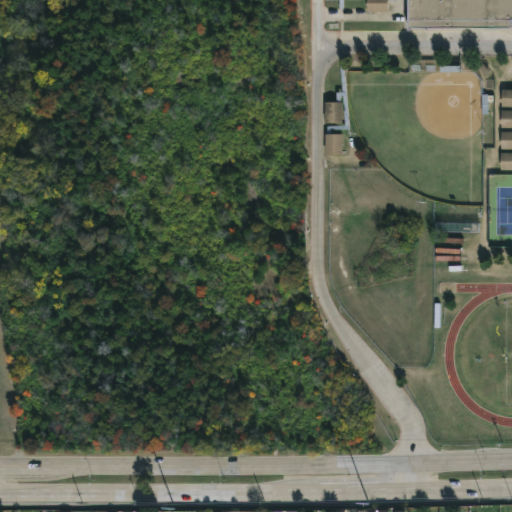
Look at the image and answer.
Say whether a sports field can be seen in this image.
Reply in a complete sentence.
Yes, the image includes a sports field.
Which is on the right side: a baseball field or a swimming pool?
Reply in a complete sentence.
Looking on the right side, you will find a baseball field.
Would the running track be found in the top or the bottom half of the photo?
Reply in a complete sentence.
The running track is in the bottom half of the image.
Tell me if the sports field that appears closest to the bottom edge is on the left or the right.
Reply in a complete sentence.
You can find the sports field that appears closest to the bottom edge on the right side of the picture.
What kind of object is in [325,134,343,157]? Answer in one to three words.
house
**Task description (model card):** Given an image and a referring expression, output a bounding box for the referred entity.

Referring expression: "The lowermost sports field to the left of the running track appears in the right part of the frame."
[330,169,433,366]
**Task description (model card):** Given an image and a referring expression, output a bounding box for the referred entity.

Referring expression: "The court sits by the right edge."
[490,174,512,247]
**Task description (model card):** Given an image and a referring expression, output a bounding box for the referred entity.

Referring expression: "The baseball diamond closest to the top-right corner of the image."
[348,72,482,205]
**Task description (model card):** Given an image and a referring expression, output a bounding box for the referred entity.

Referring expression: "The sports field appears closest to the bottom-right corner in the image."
[456,294,512,416]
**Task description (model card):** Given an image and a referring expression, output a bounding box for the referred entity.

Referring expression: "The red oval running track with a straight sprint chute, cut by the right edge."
[444,282,512,427]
